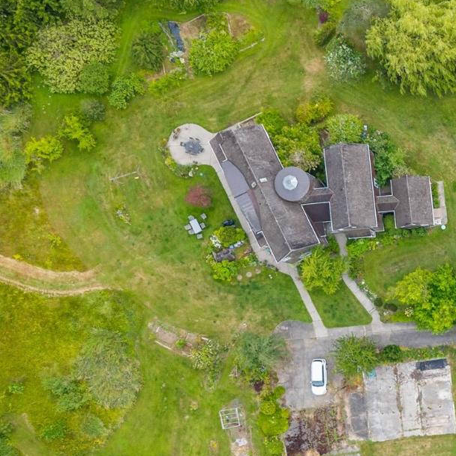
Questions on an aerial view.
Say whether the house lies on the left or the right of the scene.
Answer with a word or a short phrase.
right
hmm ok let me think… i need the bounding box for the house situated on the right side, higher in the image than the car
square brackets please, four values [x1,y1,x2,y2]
[209,114,435,263]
